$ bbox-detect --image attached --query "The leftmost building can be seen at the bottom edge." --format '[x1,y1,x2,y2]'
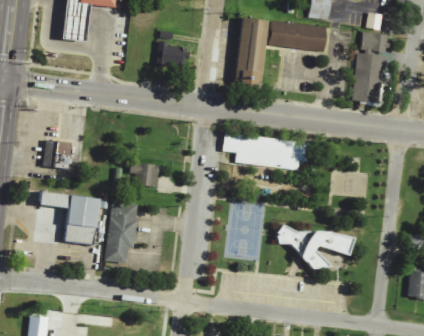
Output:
[28,314,48,336]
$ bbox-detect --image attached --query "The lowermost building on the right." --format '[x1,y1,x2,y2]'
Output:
[408,272,424,300]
